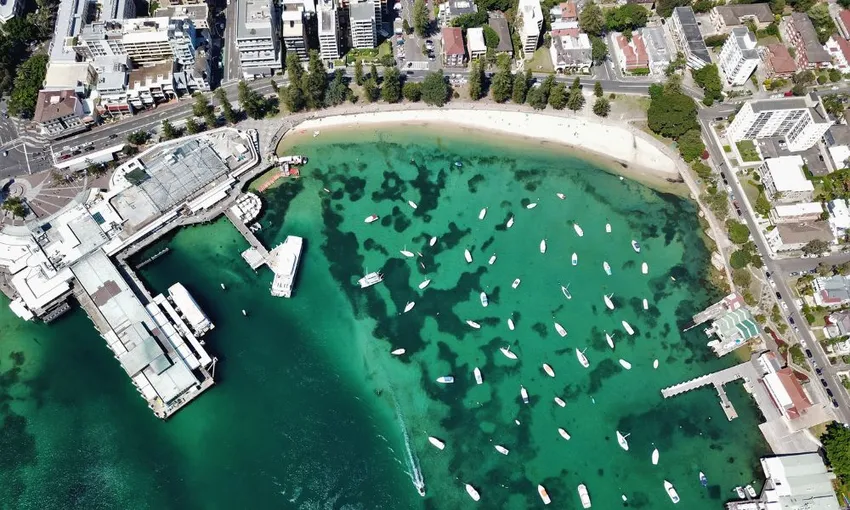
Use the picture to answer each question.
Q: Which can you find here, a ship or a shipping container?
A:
ship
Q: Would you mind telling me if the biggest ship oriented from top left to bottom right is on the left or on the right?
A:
left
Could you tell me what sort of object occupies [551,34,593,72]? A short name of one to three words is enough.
house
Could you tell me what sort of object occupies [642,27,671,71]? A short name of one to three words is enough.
building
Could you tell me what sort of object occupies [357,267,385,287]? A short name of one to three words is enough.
boat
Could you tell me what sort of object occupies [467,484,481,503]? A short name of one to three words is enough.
boat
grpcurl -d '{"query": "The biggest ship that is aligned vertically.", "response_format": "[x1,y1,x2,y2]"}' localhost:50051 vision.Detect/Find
[271,236,303,300]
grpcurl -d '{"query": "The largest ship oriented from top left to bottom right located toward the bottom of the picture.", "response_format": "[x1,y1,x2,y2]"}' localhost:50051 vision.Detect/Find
[168,281,217,338]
